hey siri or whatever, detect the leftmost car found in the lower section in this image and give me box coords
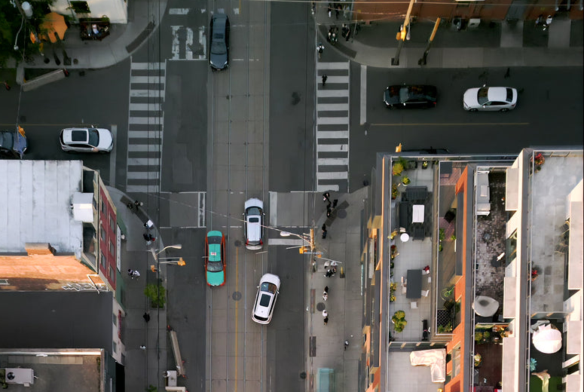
[203,231,228,290]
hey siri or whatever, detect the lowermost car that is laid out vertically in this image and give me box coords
[252,274,280,326]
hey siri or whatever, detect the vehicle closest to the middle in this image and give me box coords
[241,200,265,252]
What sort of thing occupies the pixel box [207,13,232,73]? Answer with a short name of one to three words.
car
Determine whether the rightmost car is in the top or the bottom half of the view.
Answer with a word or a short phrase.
top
